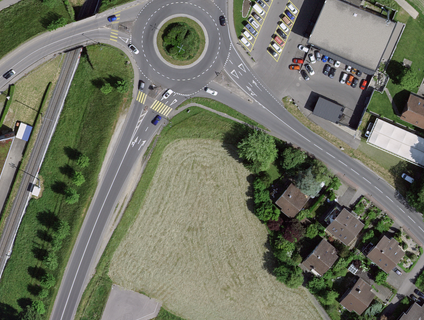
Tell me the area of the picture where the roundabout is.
top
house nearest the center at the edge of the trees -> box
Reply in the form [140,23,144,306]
[276,184,309,217]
